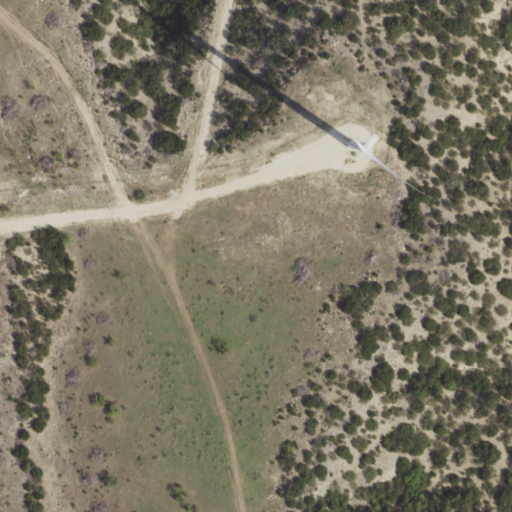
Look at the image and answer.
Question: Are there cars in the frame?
No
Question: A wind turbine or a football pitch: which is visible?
wind turbine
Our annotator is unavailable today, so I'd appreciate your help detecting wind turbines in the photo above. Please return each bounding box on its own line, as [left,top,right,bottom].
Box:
[315,114,438,199]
